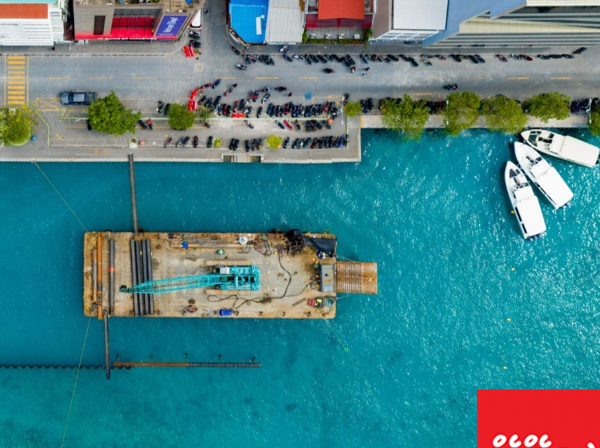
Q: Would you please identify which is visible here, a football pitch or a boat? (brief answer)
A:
boat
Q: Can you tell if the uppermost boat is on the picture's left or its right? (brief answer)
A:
right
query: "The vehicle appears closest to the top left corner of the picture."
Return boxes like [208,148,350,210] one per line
[60,89,94,105]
